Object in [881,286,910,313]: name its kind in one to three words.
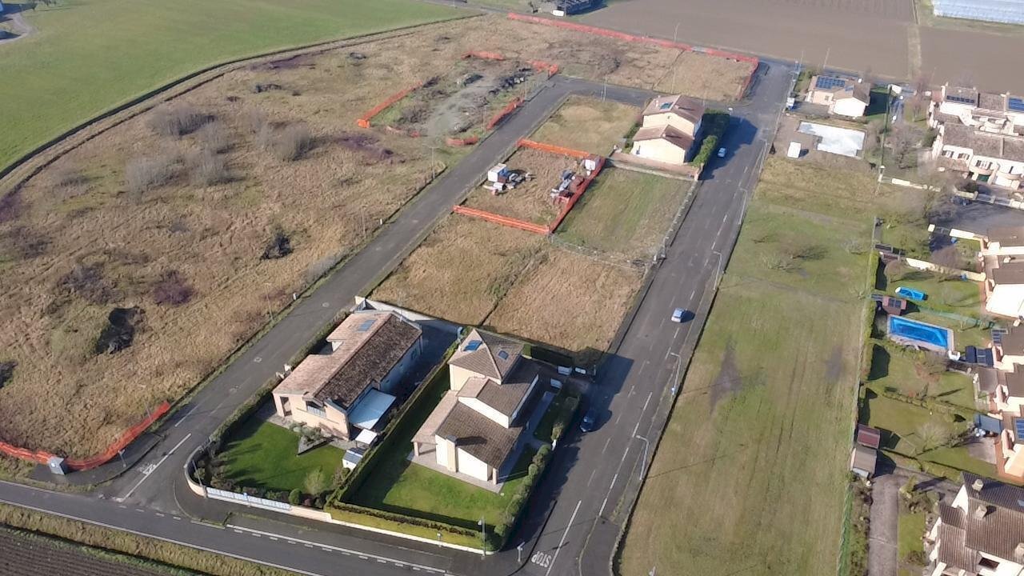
shed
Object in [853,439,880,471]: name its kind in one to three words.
shed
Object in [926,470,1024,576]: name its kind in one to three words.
house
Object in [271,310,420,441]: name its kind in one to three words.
house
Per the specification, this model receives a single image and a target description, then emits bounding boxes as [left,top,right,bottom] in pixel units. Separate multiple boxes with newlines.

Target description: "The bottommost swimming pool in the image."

[882,311,957,356]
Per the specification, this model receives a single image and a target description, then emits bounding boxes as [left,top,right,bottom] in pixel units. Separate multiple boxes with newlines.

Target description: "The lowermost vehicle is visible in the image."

[579,408,597,431]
